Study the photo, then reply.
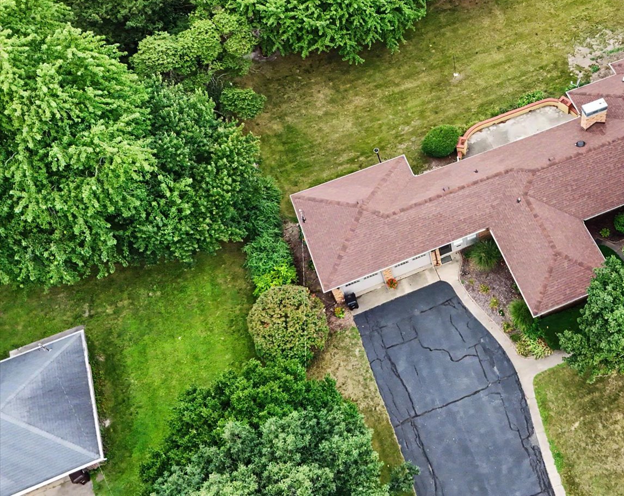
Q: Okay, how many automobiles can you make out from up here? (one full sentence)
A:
No automobiles are visible.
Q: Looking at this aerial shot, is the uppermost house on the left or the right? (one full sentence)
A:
You can find the uppermost house on the right side of the picture.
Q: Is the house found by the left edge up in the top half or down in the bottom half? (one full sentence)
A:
It is in the bottom half that the house found by the left edge appears.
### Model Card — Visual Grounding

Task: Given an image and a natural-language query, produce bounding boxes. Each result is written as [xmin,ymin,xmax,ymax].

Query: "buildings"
[290,58,624,321]
[0,326,112,496]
